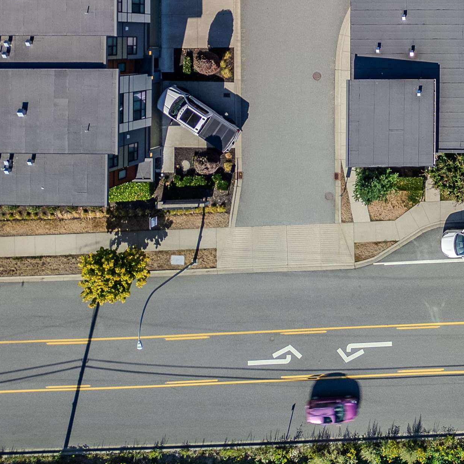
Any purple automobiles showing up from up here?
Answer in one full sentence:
Yes, a purple automobile can be made out from above.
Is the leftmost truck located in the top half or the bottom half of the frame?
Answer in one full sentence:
It is in the top half that the leftmost truck appears.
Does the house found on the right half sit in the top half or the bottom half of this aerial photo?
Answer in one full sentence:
The top half of the photo is where the house found on the right half is.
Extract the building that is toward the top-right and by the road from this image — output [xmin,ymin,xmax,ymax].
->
[344,0,464,168]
